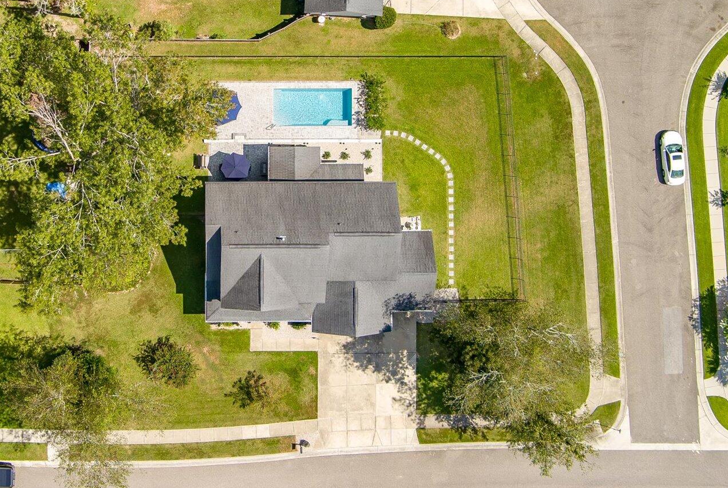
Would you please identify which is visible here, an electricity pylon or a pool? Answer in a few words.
pool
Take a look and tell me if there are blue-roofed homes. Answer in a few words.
No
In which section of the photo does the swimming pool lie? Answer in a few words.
top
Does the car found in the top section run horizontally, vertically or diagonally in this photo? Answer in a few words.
vertically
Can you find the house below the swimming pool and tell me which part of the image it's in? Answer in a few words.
center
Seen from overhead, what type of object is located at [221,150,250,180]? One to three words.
umbrella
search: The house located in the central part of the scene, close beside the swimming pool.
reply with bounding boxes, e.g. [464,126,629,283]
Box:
[205,145,436,336]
